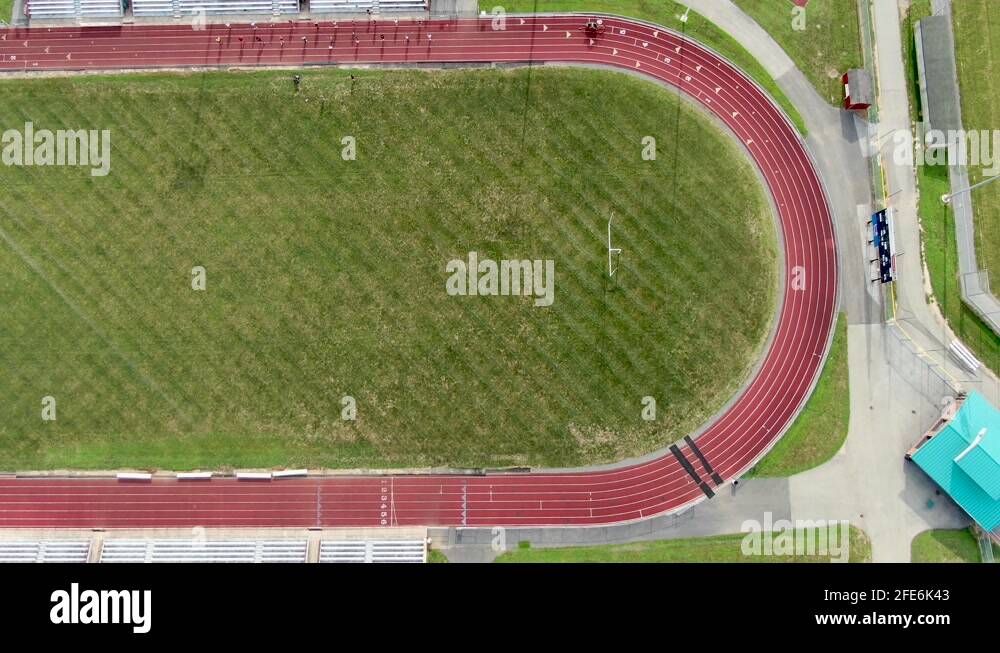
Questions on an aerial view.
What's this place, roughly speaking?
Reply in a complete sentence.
This looks like a sports ground.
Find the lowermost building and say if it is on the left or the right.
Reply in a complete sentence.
It is on the right.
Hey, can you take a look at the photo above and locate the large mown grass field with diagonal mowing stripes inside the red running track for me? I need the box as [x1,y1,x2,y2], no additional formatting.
[0,67,778,469]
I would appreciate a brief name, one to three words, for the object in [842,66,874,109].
shed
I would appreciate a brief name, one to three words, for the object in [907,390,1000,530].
building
